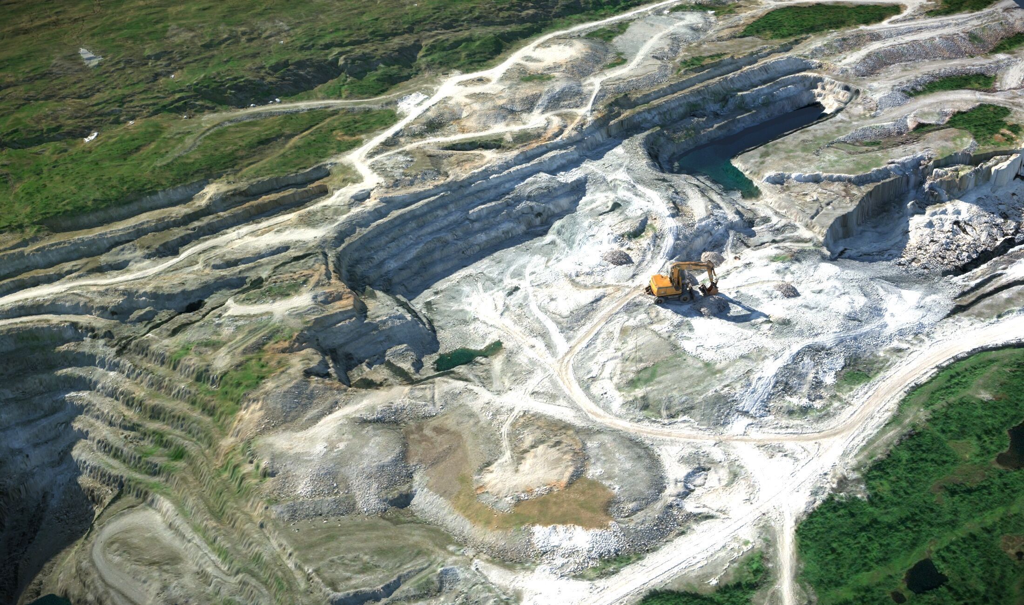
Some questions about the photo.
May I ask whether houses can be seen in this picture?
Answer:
No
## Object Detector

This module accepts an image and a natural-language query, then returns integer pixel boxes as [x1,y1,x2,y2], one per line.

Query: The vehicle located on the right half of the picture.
[639,259,722,307]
